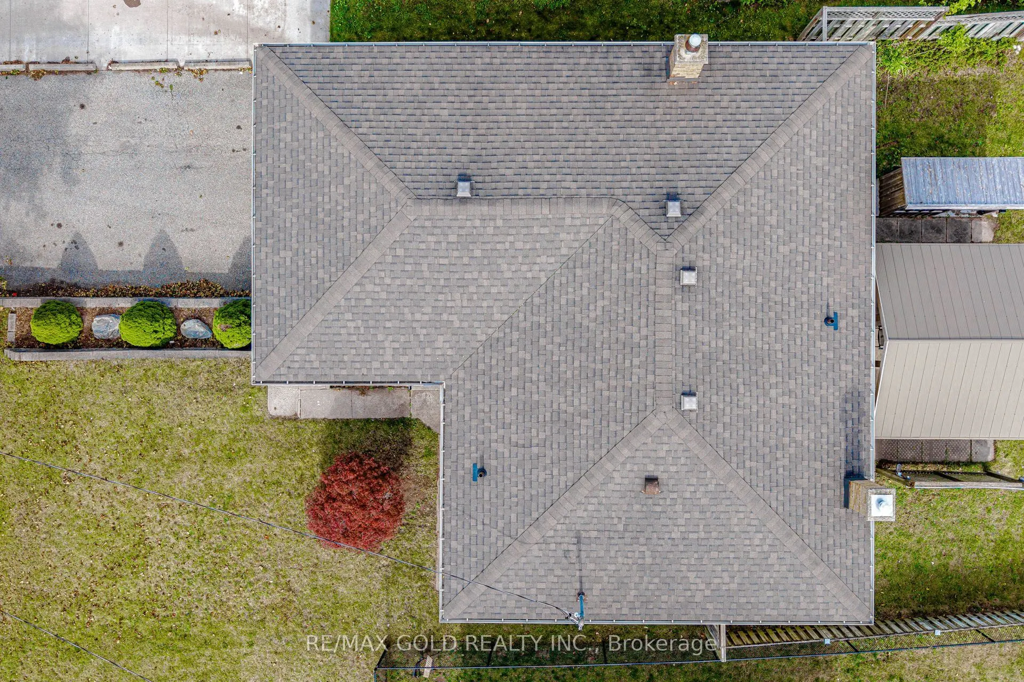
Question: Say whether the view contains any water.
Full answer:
No, there is no water in the image.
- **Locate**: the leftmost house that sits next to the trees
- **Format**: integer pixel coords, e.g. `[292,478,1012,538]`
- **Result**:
[252,34,896,630]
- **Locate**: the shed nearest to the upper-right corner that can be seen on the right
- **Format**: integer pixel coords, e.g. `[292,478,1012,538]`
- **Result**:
[875,157,1024,216]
